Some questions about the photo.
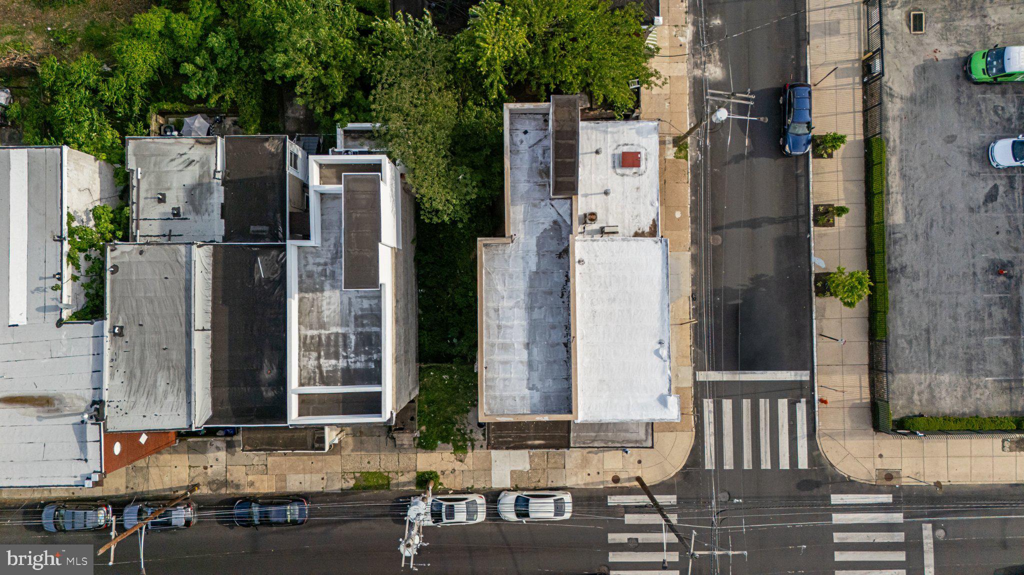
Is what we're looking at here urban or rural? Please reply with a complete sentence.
The area is urban.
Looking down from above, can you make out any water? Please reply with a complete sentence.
No, the scene doesn't show any water.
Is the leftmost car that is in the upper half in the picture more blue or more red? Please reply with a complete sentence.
The color of the leftmost car that is in the upper half is blue.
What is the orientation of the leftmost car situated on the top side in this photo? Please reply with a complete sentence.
Seen from above, the leftmost car situated on the top side lies up and down.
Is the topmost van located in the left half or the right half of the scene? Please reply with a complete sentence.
You can find the topmost van on the right side of the picture.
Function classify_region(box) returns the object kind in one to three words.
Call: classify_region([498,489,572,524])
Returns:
car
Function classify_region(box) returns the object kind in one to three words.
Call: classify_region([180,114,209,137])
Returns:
umbrella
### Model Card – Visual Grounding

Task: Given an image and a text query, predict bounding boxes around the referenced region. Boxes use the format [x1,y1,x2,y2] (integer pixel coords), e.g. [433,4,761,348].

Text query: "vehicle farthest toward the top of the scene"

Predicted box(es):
[963,44,1024,84]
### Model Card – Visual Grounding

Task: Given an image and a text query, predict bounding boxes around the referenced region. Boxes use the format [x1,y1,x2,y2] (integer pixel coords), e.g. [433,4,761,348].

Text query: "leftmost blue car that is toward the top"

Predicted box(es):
[778,82,815,157]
